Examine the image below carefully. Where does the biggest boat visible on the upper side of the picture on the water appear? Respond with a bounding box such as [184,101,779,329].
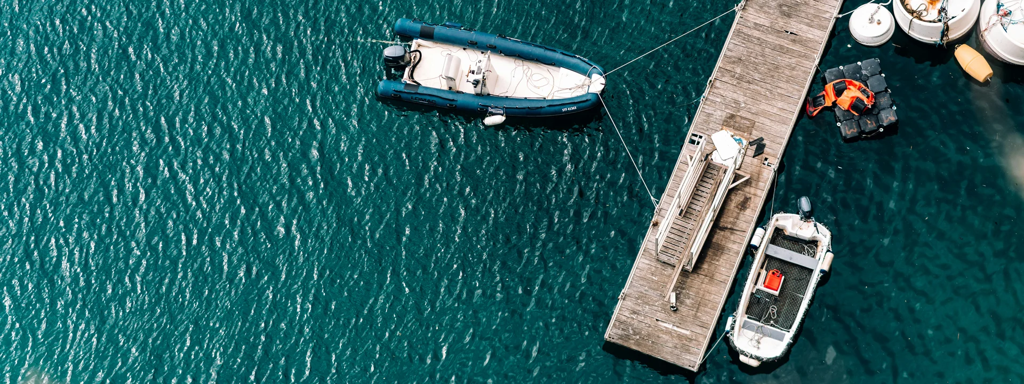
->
[378,19,607,118]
